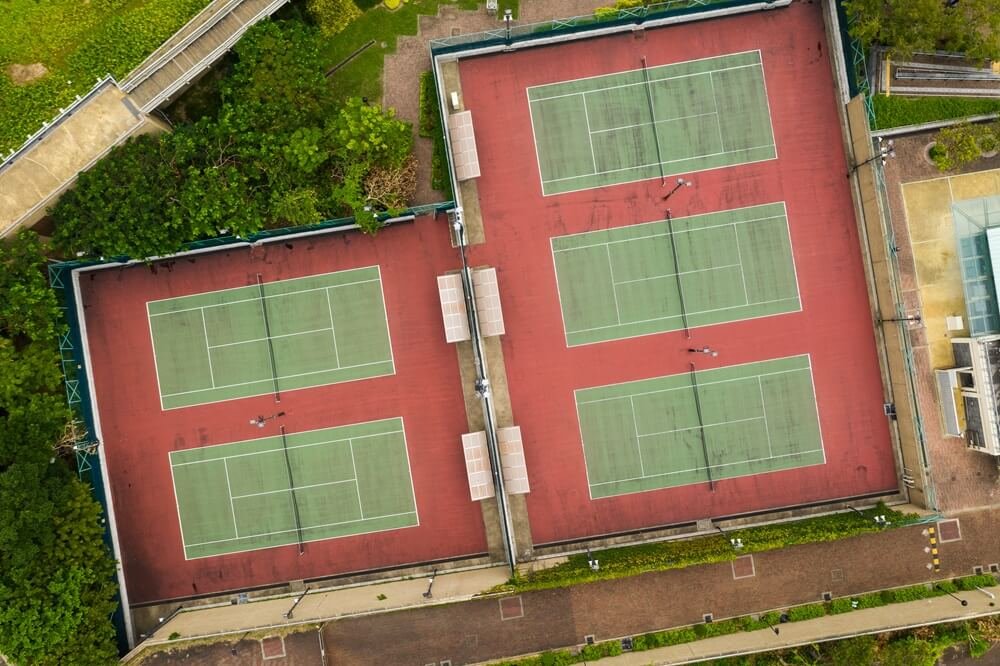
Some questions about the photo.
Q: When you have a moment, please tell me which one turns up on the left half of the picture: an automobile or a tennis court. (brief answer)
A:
tennis court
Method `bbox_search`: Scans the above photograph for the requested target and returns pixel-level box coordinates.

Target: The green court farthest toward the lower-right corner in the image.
[575,354,825,500]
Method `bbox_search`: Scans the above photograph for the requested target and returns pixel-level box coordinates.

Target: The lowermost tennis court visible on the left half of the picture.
[167,415,420,562]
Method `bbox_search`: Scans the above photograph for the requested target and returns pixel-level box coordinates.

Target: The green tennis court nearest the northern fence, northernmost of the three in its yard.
[527,52,776,194]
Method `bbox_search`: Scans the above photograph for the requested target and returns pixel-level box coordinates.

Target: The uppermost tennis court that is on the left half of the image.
[146,266,397,411]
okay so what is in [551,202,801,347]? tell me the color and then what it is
green tennis court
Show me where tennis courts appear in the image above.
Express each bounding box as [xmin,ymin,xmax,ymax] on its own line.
[167,415,420,562]
[527,52,776,194]
[575,354,825,500]
[551,202,801,347]
[146,266,397,411]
